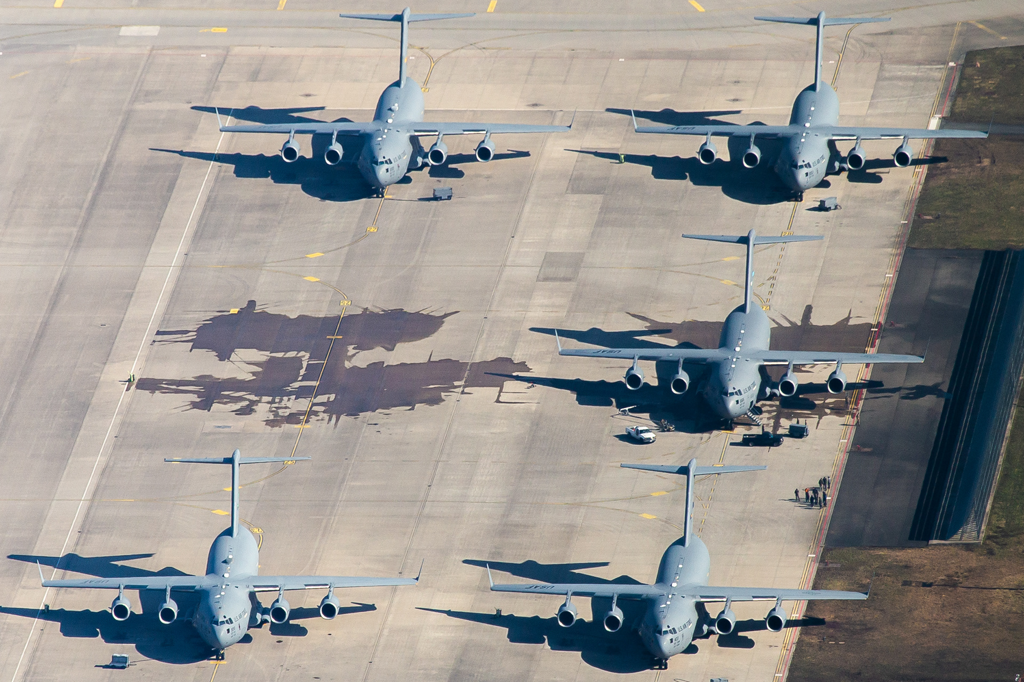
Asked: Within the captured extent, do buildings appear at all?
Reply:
No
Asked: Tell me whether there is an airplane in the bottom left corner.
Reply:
Yes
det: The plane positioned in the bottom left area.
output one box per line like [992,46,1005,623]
[36,448,424,662]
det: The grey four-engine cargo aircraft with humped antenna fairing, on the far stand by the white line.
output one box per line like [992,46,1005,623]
[215,5,576,199]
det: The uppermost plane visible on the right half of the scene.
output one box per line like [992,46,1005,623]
[631,9,994,203]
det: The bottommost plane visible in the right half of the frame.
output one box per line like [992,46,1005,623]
[487,456,875,671]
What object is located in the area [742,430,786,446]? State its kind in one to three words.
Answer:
vehicle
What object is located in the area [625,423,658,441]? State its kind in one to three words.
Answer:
vehicle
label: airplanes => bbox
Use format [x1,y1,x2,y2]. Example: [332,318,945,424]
[555,226,930,430]
[36,448,424,662]
[487,456,875,671]
[215,5,576,199]
[631,9,994,203]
